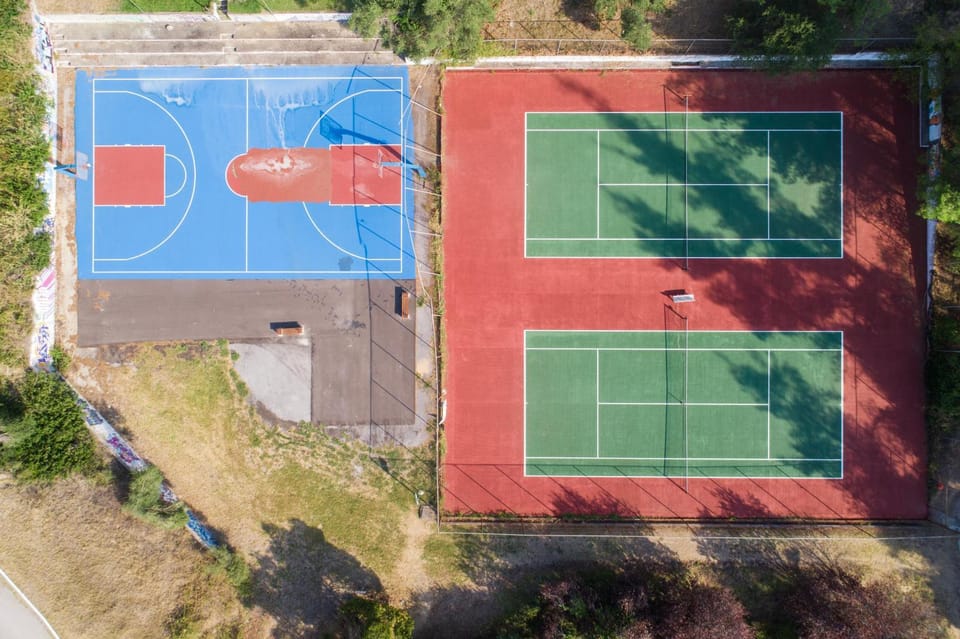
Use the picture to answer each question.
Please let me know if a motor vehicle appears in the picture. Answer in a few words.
No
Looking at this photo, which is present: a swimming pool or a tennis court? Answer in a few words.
tennis court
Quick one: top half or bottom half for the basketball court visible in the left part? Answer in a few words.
top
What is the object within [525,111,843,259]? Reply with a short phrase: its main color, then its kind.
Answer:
green tennis court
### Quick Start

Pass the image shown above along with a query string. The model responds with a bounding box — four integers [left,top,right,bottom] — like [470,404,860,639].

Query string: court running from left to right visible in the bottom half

[524,331,843,478]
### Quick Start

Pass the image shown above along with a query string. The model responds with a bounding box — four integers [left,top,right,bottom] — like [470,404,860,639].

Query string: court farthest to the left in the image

[75,67,415,280]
